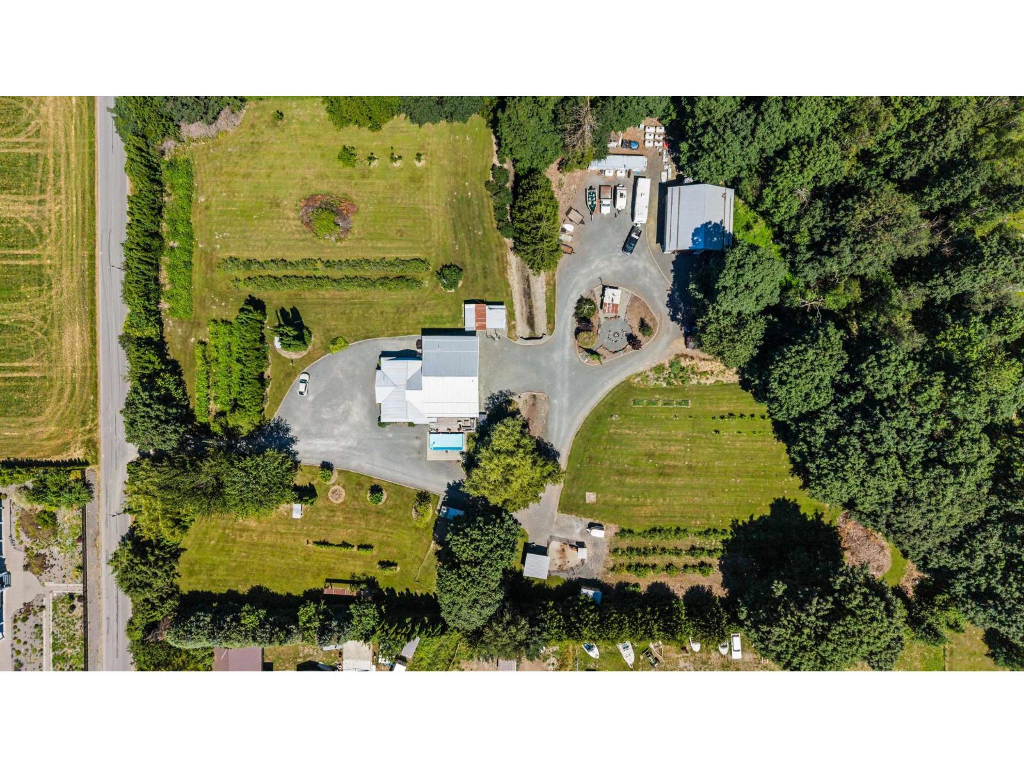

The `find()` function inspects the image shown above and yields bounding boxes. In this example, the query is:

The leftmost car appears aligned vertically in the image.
[297,372,309,396]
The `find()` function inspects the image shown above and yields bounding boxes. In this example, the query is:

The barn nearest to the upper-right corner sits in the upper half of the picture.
[664,184,733,257]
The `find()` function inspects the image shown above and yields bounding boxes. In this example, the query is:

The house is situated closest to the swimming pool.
[374,335,479,424]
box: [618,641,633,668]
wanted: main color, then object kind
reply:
white boat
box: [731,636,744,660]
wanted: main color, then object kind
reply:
white vehicle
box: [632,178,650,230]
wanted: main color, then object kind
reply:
white trailer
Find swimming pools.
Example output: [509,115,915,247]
[427,432,466,461]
